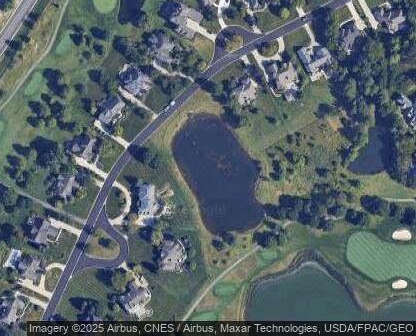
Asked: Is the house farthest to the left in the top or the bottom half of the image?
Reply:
bottom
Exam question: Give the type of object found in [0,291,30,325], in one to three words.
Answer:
house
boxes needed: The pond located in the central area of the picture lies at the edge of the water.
[172,112,266,233]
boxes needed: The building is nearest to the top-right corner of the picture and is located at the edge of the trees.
[372,5,409,36]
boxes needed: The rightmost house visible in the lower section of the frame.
[156,236,191,272]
